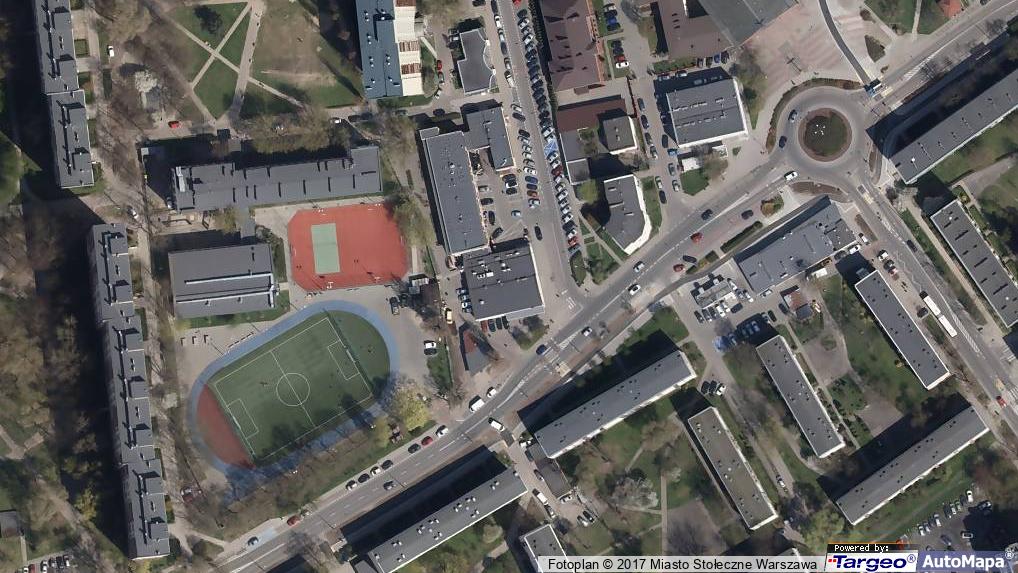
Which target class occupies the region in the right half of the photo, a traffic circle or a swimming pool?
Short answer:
traffic circle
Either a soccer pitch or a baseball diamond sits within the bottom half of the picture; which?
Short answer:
soccer pitch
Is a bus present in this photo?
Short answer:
Yes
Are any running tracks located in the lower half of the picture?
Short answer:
Yes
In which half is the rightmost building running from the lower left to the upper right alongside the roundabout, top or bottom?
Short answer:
top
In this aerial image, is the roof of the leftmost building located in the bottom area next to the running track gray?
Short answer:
Yes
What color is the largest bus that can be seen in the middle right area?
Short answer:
white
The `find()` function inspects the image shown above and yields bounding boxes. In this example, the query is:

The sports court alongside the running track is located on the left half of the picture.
[288,203,406,291]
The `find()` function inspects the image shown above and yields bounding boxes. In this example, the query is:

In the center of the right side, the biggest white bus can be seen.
[921,291,957,337]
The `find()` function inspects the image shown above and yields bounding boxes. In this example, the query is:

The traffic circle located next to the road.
[776,86,874,183]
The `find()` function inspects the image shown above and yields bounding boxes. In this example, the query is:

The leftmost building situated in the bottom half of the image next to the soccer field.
[90,222,175,561]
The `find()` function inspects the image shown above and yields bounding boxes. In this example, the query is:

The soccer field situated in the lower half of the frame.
[187,296,402,506]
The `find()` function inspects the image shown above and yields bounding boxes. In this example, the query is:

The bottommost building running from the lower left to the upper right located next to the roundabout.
[739,203,857,297]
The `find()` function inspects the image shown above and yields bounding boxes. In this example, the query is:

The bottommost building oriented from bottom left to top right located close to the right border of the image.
[836,406,990,528]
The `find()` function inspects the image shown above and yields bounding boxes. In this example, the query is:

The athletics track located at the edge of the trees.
[187,296,402,481]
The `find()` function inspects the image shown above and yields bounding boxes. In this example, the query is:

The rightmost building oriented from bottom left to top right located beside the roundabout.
[891,71,1018,187]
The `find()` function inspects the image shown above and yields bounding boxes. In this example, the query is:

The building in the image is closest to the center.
[462,243,546,322]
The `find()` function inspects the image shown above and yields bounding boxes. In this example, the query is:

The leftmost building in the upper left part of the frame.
[33,0,98,193]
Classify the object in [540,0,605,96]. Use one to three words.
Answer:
building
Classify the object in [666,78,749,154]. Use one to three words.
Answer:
building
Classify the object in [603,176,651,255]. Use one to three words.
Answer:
house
